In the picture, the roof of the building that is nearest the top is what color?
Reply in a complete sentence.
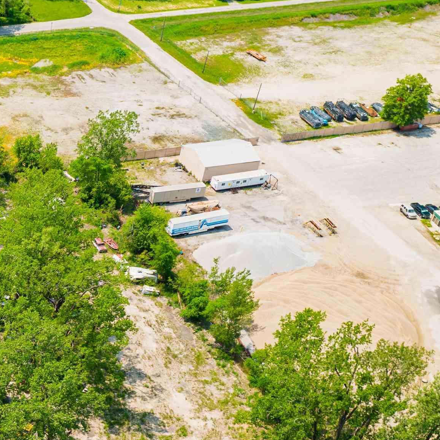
From above, the roof of the building that is nearest the top looks white.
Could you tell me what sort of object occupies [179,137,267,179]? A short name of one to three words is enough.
building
